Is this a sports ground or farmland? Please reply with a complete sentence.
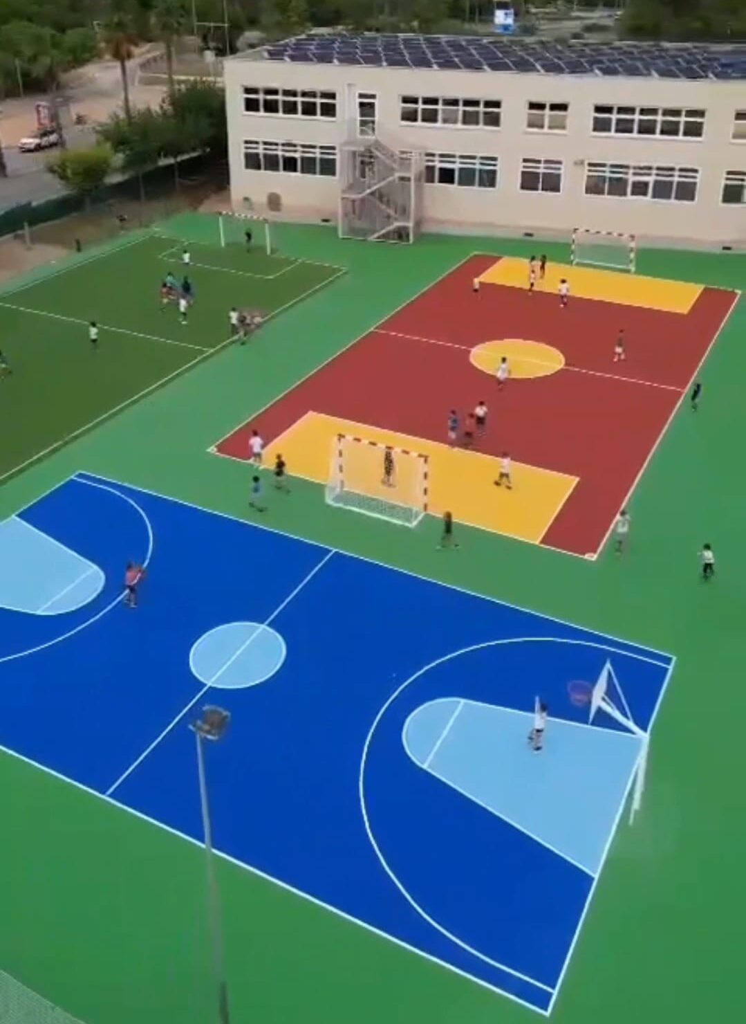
The area seen from above is a sports ground.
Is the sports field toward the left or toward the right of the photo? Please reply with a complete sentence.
It is on the left.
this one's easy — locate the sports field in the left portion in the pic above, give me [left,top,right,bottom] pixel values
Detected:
[0,233,351,483]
